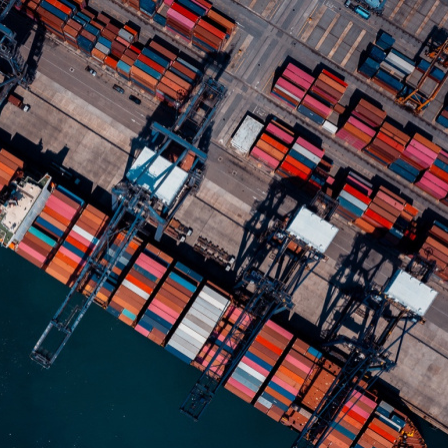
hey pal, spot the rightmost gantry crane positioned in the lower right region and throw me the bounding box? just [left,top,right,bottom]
[284,250,443,448]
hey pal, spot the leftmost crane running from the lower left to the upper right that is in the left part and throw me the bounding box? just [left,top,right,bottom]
[28,77,228,370]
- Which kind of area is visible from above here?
port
